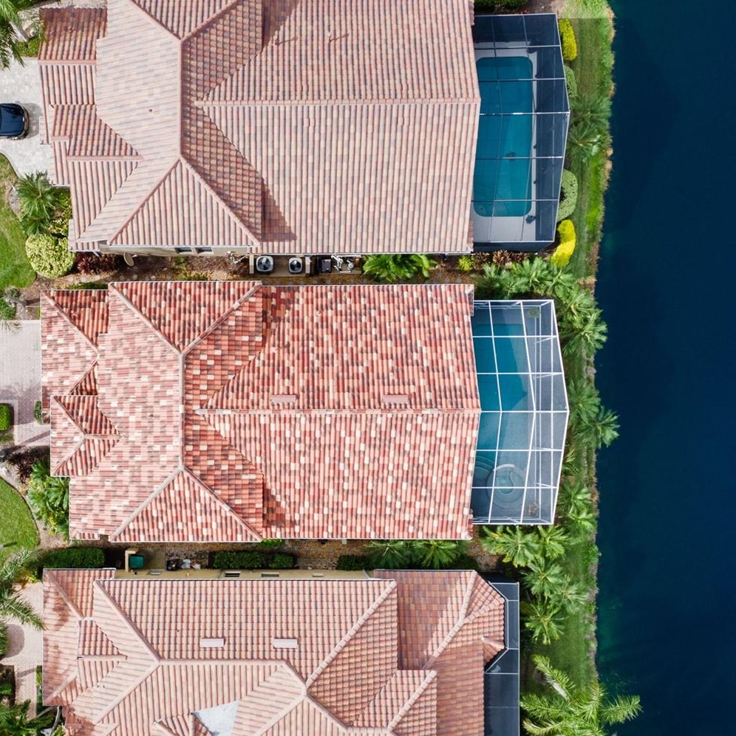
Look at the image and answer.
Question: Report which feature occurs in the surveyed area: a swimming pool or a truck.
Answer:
swimming pool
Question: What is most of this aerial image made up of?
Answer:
buildings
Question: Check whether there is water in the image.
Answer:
Yes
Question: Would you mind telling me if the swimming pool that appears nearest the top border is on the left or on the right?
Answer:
right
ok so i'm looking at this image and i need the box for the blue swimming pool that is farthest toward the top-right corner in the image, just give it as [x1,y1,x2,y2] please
[475,54,534,219]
